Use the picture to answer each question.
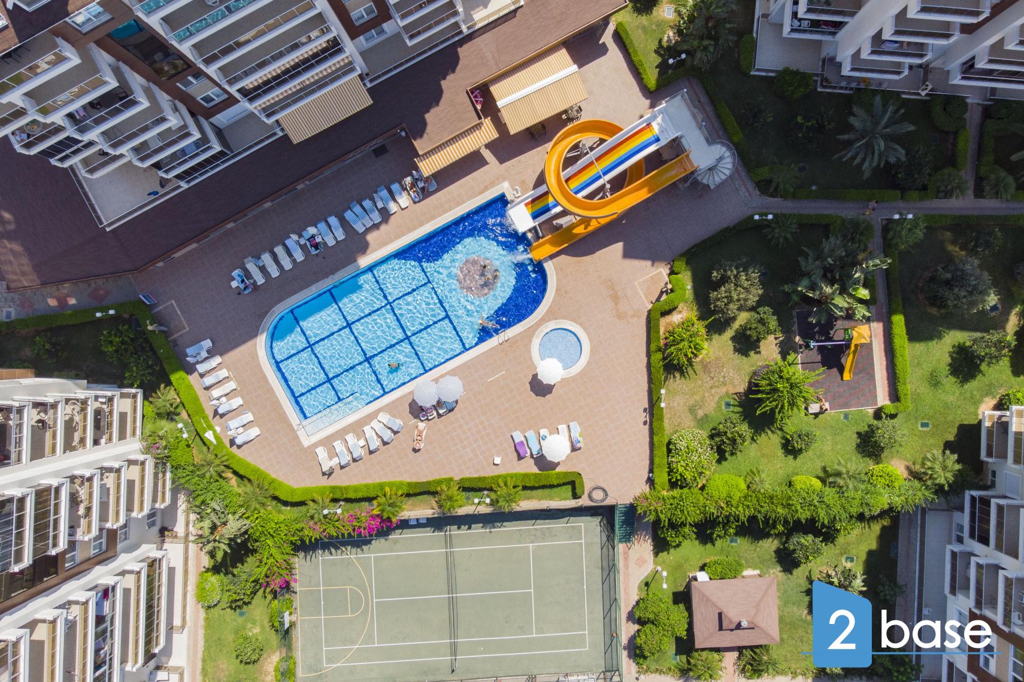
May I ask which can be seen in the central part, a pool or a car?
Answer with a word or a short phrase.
pool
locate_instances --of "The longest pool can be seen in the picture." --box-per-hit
[257,181,556,447]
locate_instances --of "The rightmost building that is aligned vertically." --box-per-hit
[901,406,1024,682]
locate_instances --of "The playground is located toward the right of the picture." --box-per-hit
[795,307,879,414]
